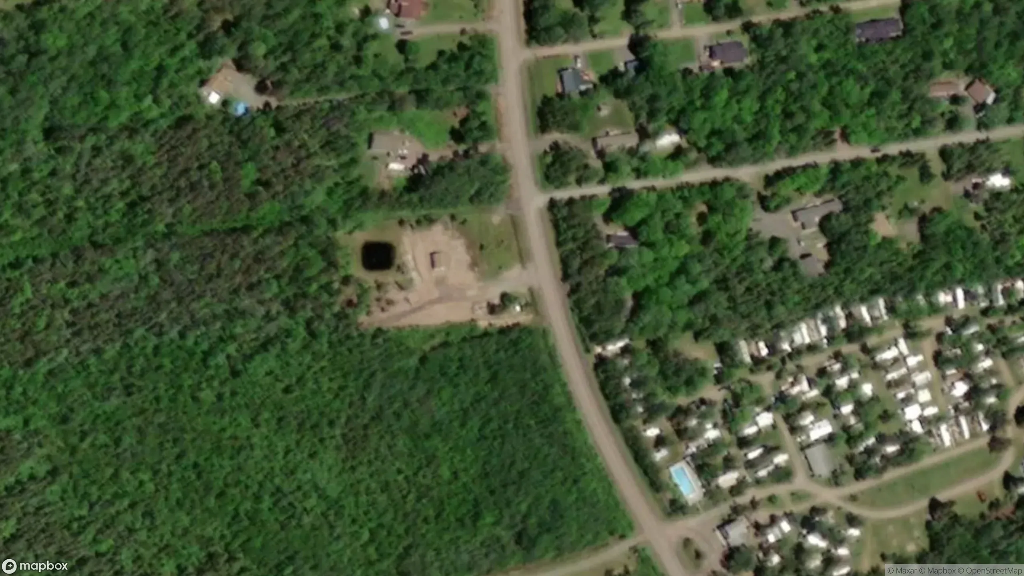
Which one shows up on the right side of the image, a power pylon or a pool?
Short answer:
pool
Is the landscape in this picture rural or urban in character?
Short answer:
rural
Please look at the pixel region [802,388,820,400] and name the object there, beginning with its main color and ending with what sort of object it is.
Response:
white vehicle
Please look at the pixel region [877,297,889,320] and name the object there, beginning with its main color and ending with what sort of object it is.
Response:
white vehicle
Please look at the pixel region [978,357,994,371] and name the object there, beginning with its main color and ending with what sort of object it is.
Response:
white camper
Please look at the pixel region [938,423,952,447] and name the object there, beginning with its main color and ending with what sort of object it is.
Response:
white camper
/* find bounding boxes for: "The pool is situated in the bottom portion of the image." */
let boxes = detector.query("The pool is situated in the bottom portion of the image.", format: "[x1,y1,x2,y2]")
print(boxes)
[670,461,703,504]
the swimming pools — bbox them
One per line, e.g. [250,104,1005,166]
[235,102,247,114]
[670,461,703,504]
